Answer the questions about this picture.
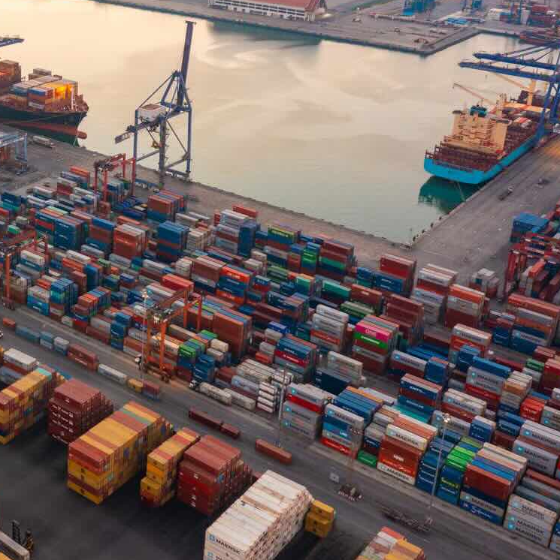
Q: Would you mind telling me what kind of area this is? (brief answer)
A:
port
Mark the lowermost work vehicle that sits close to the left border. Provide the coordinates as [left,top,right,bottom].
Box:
[9,512,43,553]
